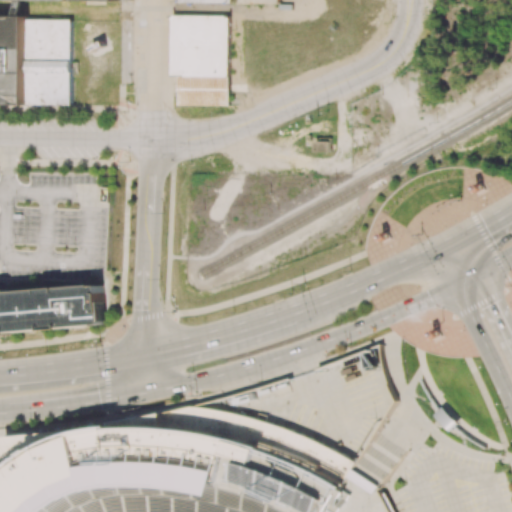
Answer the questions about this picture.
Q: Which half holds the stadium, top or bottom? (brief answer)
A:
bottom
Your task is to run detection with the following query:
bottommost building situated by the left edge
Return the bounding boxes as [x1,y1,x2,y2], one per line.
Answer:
[0,285,108,332]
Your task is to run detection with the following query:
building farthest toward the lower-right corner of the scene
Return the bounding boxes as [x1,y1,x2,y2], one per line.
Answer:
[434,408,458,433]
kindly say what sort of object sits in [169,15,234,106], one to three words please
building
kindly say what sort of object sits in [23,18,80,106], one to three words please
building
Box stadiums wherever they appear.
[0,424,348,512]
